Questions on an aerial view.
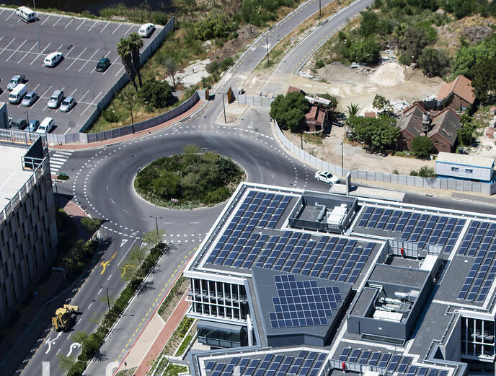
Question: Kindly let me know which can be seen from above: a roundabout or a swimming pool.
roundabout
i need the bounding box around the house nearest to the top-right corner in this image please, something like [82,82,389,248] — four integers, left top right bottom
[441,73,473,111]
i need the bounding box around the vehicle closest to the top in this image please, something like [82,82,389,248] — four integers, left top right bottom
[16,6,35,21]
